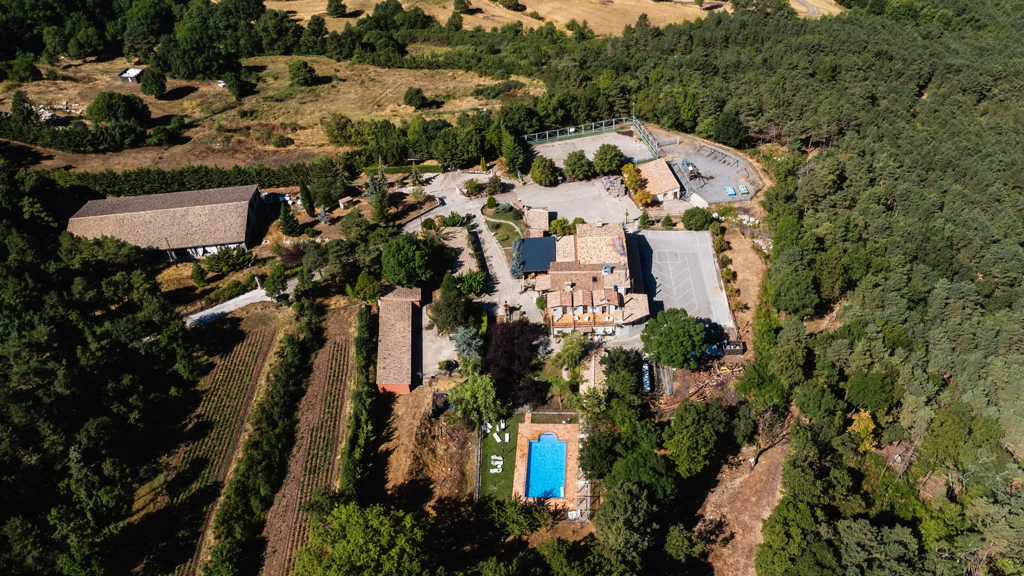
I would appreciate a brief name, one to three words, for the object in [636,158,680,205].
building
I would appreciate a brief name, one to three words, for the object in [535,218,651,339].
house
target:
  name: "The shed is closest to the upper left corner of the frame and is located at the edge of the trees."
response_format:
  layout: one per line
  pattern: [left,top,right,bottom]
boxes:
[113,67,144,84]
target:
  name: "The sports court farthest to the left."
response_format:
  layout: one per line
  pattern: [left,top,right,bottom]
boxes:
[526,125,656,186]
